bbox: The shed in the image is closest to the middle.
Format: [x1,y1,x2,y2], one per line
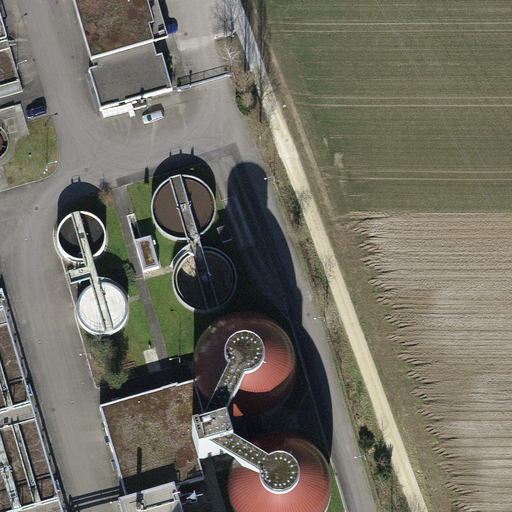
[136,235,159,272]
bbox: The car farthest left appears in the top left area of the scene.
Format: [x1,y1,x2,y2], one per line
[26,106,47,120]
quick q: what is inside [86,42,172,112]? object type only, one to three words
building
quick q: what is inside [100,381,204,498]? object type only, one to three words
building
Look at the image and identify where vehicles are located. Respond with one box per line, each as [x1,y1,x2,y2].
[26,106,47,120]
[142,110,165,124]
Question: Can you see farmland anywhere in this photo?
Yes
